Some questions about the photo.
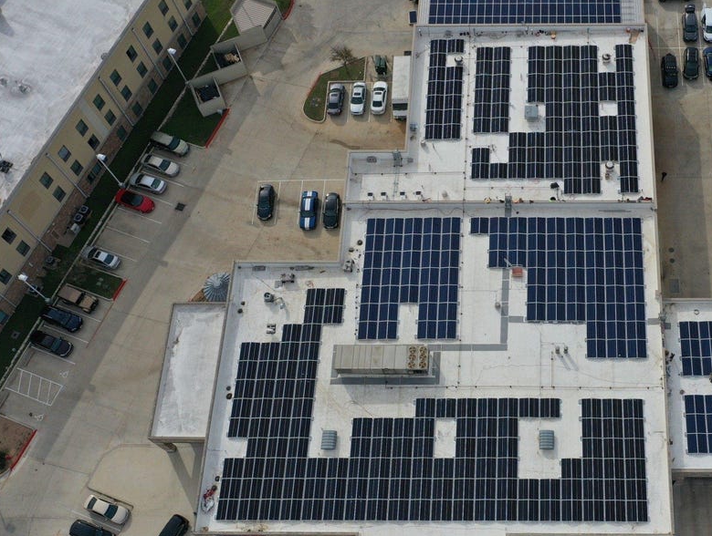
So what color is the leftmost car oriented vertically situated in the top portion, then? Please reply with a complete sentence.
The color of the leftmost car oriented vertically situated in the top portion is black.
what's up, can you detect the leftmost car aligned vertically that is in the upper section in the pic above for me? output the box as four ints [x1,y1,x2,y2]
[255,183,275,222]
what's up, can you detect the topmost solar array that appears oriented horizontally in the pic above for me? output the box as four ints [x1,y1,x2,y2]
[428,0,621,25]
